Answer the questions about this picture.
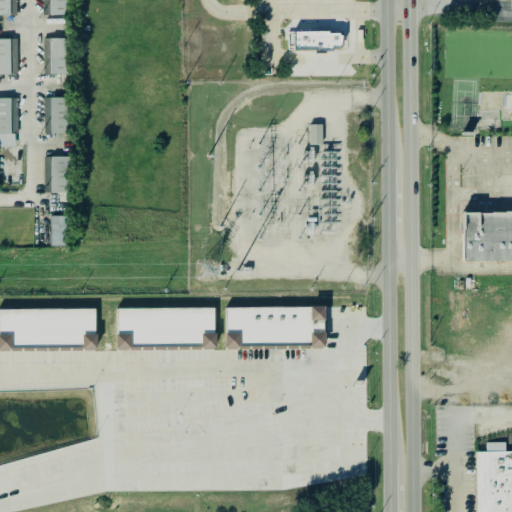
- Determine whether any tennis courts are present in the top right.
Yes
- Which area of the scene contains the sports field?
top right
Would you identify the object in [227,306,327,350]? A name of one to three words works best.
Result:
building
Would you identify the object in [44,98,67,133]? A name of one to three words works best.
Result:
shed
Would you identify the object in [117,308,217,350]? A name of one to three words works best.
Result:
building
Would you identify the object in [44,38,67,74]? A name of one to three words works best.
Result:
shed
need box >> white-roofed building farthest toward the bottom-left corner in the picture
[0,308,97,350]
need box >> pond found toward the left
[0,400,88,456]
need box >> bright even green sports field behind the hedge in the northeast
[446,29,512,78]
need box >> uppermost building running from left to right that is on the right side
[296,30,344,52]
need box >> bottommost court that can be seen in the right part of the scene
[452,80,478,128]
